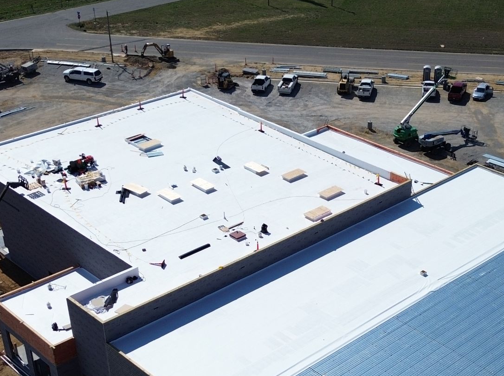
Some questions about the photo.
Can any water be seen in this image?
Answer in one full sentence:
No, there is no water in the image.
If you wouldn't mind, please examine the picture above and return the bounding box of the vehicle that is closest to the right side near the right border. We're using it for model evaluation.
[471,85,491,101]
